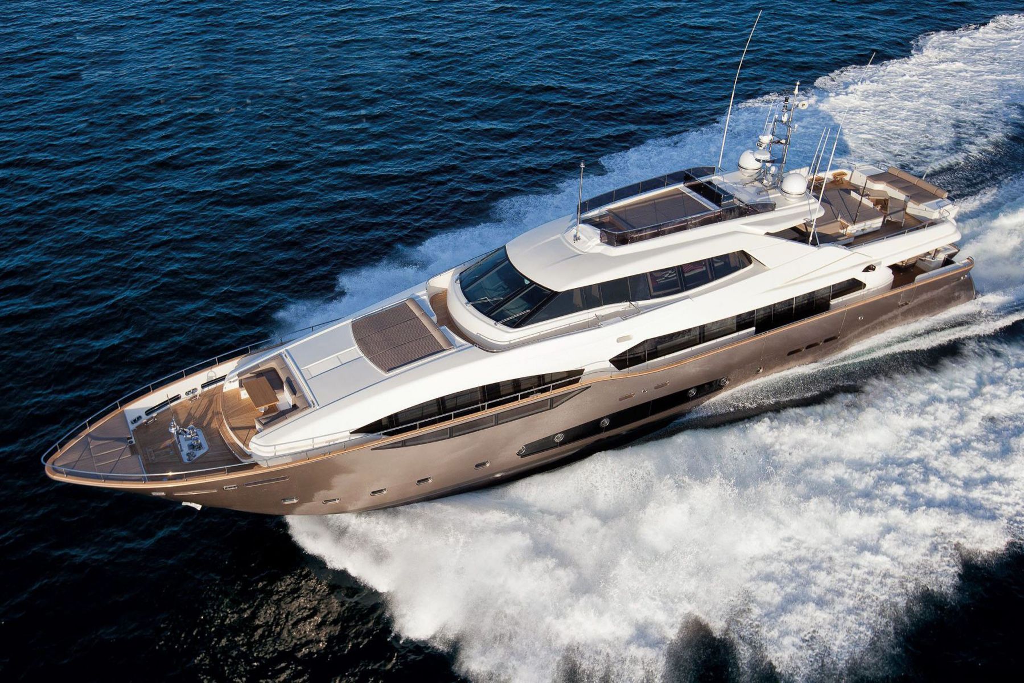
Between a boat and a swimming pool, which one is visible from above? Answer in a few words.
boat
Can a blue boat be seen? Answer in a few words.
No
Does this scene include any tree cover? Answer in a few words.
No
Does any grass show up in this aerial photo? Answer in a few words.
No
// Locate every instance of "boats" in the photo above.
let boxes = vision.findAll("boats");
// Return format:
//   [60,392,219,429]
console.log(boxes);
[43,11,975,516]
